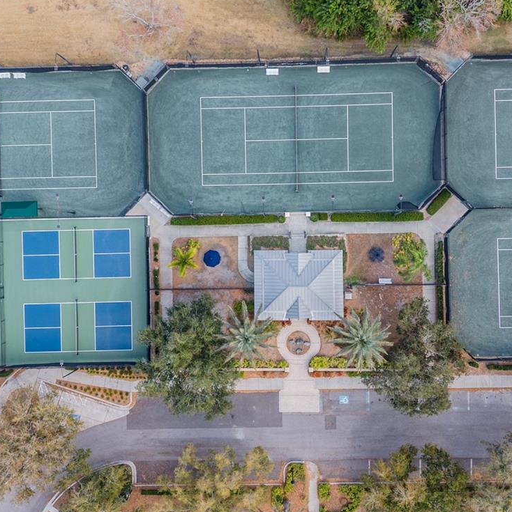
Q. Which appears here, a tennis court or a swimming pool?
tennis court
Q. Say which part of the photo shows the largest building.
center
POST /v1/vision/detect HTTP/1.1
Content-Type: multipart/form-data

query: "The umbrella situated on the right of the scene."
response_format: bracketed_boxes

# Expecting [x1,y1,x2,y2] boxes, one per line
[368,246,383,261]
